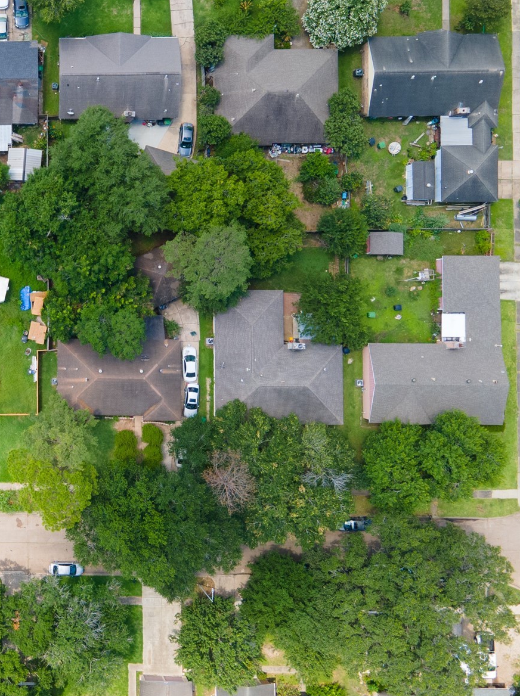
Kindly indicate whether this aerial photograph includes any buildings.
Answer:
Yes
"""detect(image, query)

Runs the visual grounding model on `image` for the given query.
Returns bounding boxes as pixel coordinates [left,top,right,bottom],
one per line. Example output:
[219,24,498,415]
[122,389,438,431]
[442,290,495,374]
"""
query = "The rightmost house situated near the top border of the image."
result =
[363,31,515,203]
